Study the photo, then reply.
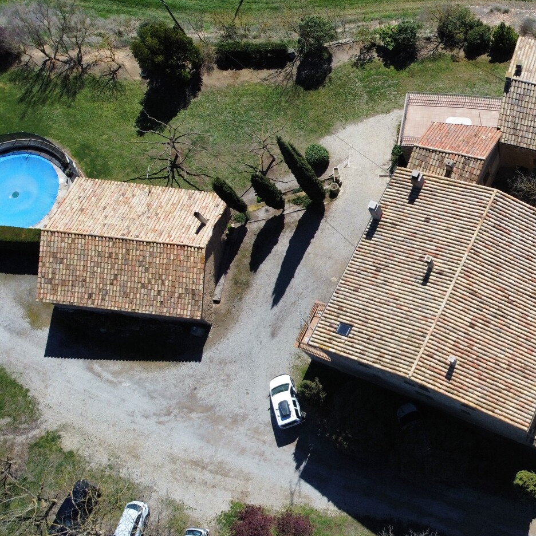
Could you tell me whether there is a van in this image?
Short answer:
Yes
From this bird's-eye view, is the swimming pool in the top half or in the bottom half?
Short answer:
top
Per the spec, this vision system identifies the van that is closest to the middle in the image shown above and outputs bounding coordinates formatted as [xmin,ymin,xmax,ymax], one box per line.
[267,374,306,434]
